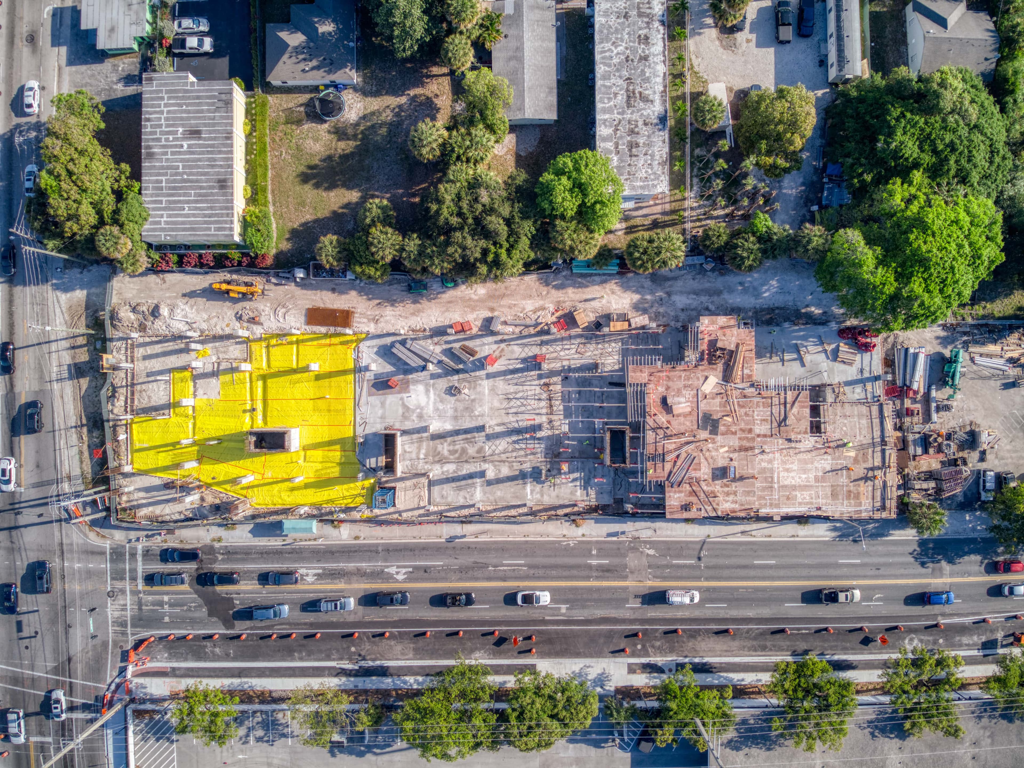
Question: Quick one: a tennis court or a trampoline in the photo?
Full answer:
It is a trampoline that can be seen here.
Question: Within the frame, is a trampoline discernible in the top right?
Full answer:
No, in the top right there is no trampoline.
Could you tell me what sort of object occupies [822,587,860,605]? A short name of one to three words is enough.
vehicle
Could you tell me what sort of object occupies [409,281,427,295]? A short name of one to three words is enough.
work vehicle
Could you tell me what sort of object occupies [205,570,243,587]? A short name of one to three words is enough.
car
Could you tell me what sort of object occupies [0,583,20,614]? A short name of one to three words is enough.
car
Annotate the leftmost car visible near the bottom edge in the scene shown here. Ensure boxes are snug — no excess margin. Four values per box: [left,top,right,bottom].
[6,708,27,744]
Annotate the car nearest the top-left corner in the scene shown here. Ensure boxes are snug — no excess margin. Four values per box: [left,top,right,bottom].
[22,81,41,115]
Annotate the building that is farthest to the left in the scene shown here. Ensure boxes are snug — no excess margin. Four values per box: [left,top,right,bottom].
[81,0,159,60]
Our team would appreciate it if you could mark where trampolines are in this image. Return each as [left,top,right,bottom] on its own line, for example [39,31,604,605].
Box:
[311,84,346,122]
